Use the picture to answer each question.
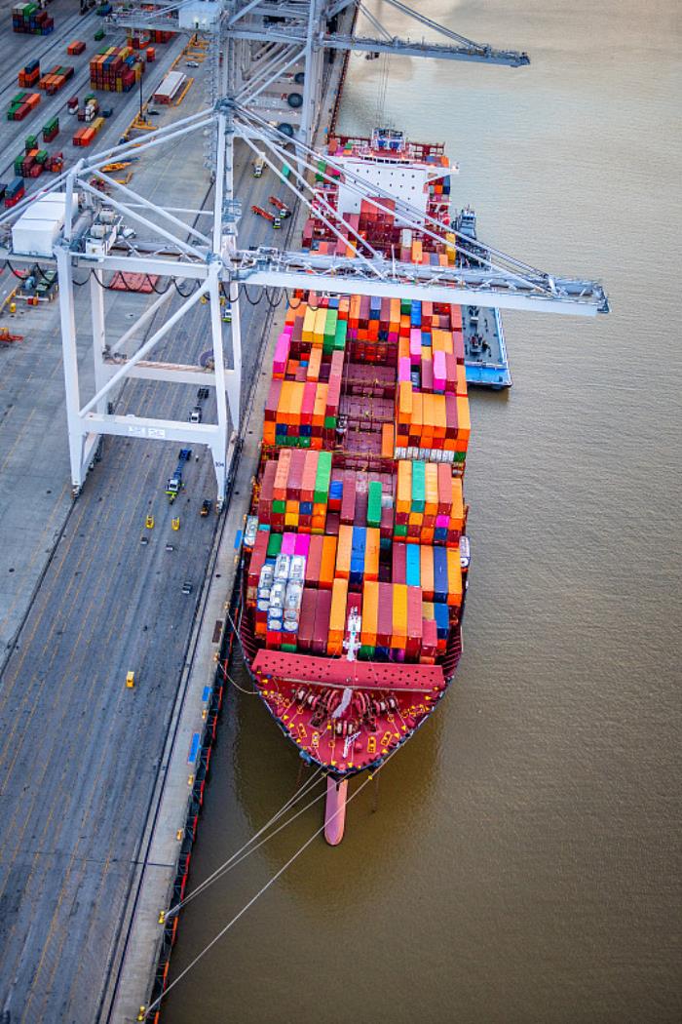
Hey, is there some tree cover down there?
No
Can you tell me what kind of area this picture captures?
port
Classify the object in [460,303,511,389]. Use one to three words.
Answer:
ship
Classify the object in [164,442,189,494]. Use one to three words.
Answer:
truck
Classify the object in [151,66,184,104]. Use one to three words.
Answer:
shed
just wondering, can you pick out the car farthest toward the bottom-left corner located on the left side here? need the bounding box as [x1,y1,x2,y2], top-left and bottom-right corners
[180,574,195,594]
